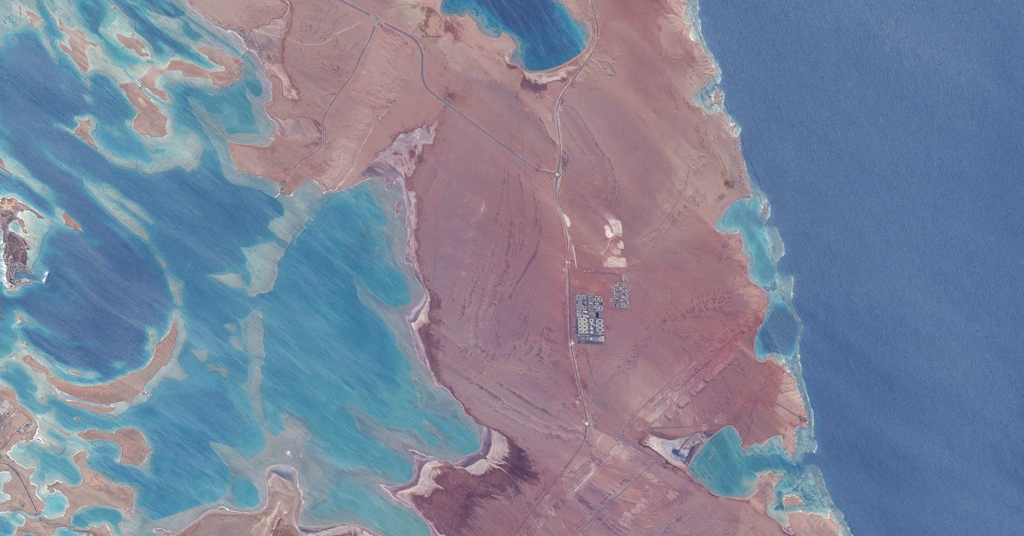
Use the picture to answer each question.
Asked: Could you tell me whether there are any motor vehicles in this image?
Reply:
No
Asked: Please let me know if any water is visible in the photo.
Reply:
Yes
